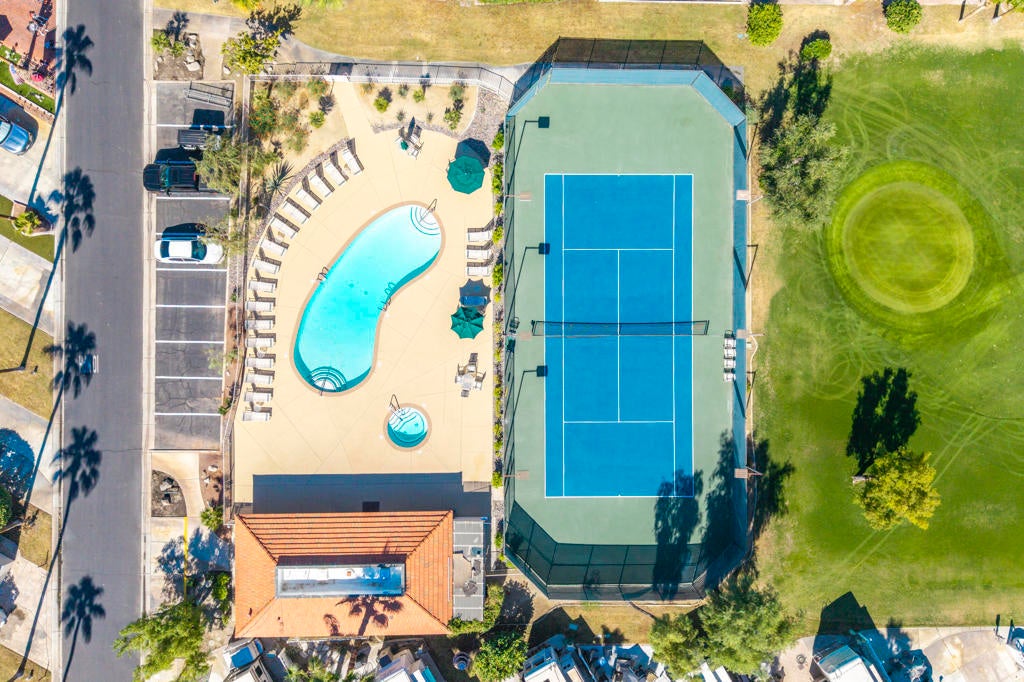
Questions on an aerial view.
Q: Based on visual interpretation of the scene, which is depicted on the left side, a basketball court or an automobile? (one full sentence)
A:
The one visible on the left side is an automobile.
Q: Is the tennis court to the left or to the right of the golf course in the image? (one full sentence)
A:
The tennis court appears to the left of the golf course in this view.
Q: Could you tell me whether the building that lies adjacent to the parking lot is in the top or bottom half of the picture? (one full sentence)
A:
You can find the building that lies adjacent to the parking lot in the bottom half.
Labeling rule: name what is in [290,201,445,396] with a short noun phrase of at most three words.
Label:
swimming pool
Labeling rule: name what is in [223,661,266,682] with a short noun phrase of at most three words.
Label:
vehicle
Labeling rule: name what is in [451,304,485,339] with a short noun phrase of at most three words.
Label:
umbrella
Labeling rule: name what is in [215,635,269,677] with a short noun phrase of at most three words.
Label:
car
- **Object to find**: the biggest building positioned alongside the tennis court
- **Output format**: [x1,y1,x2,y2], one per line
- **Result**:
[234,510,453,638]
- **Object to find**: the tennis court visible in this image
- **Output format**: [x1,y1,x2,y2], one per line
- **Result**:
[506,84,734,584]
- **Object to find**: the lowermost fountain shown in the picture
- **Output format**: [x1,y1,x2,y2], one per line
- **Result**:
[454,646,473,666]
